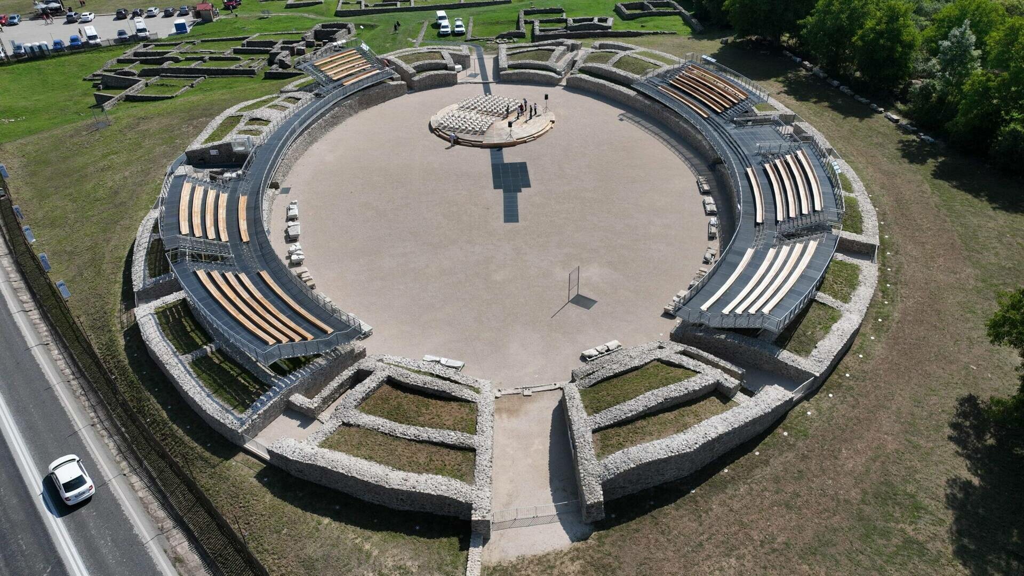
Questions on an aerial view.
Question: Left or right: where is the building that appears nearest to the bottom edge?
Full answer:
The building that appears nearest to the bottom edge appears in the left half of the scene.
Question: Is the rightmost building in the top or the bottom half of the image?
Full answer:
It is in the top half that the rightmost building appears.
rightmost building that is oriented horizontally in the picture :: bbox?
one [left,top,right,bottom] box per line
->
[614,0,705,35]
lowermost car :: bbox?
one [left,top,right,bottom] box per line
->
[47,456,98,511]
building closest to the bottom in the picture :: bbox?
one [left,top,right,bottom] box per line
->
[93,74,207,116]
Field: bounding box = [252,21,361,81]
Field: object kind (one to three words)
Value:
building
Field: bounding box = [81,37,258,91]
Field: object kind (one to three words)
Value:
building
